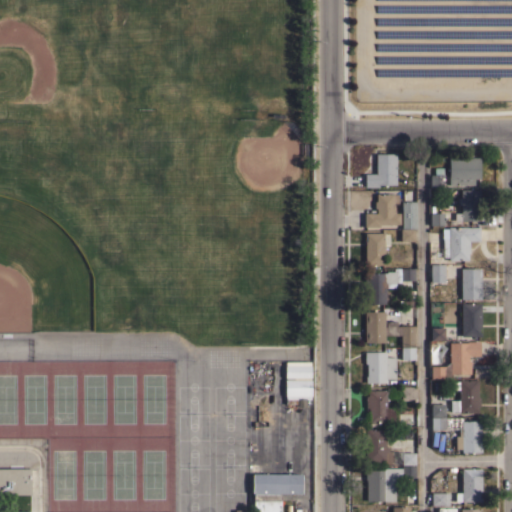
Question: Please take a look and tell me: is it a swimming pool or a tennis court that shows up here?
tennis court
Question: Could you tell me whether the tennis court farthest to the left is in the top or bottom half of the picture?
bottom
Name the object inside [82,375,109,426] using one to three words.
tennis court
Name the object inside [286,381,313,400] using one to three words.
building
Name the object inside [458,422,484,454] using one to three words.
house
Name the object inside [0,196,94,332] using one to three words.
baseball field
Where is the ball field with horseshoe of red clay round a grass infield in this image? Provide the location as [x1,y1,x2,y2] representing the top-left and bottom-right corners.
[0,18,56,105]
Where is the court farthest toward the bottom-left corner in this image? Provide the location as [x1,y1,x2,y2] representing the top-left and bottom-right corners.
[52,450,80,501]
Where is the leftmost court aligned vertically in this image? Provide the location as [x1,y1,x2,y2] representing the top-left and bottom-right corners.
[0,375,20,426]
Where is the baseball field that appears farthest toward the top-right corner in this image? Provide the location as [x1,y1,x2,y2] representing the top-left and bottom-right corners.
[235,122,304,194]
